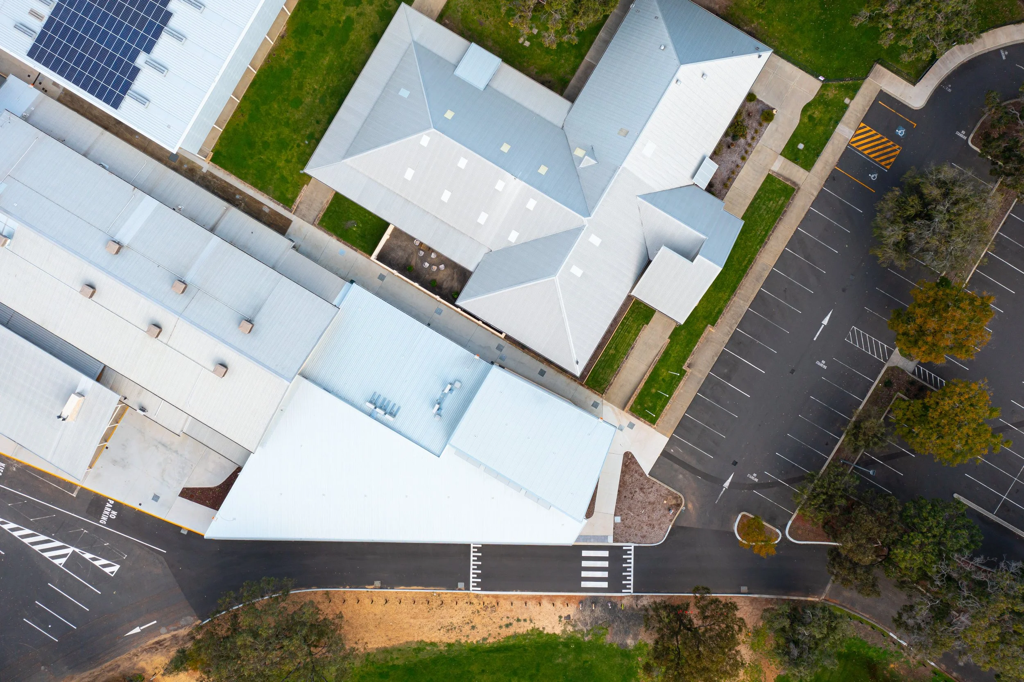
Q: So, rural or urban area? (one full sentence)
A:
This place is urban.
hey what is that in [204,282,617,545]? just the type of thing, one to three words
building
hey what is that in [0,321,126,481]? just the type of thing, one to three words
building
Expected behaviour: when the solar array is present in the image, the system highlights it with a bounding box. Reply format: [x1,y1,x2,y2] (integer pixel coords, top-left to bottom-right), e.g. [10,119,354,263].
[27,0,179,109]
